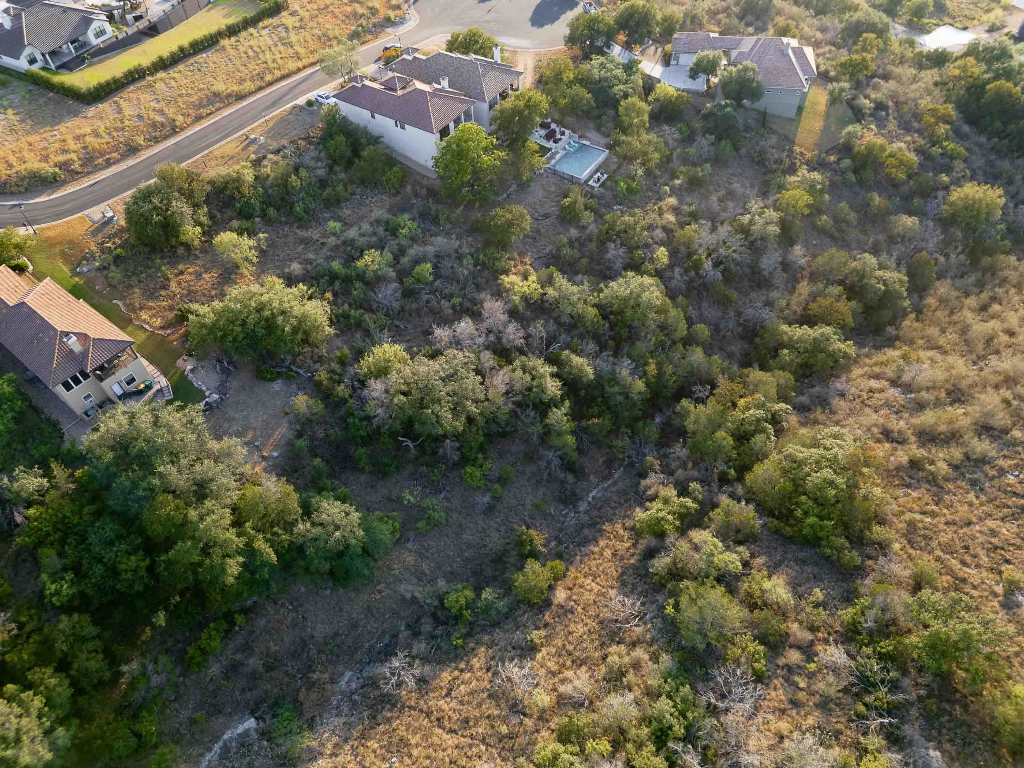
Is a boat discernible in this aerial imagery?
No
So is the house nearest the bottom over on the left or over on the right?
left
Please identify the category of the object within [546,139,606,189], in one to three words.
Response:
swimming pool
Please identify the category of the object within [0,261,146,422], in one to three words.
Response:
house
